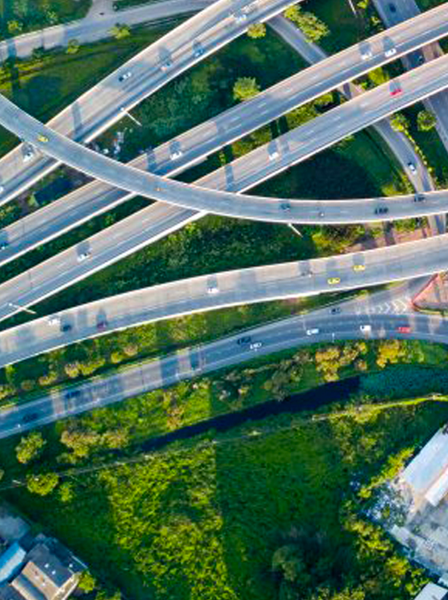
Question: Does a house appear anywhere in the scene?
Yes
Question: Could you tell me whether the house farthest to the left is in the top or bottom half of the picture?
bottom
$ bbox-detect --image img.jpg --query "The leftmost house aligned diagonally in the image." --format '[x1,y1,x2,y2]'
[0,540,30,588]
